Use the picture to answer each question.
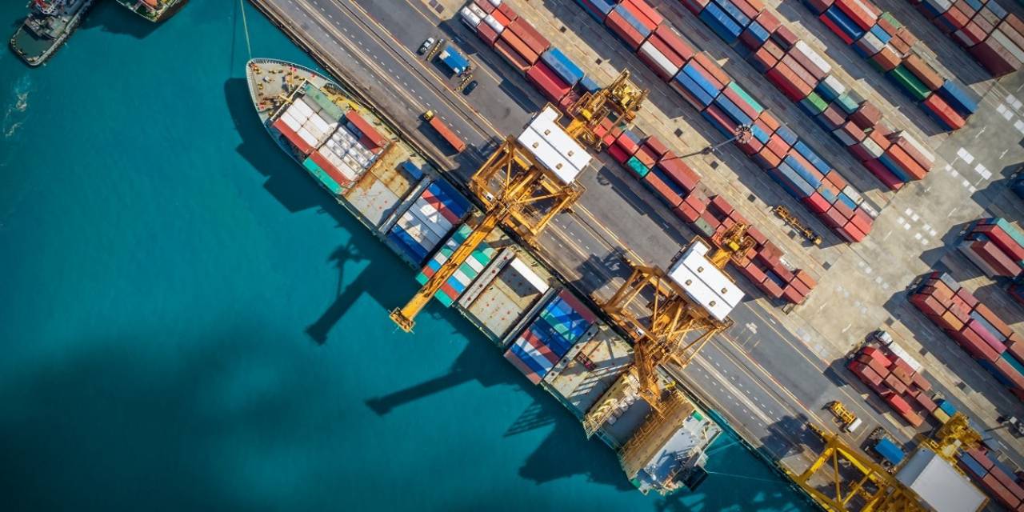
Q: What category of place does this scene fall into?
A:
port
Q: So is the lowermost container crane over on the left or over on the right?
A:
right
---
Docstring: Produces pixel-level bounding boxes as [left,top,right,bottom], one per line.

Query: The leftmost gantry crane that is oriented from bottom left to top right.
[396,55,657,331]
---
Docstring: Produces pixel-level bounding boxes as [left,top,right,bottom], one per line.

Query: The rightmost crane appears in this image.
[762,405,996,512]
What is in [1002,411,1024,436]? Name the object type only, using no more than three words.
truck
